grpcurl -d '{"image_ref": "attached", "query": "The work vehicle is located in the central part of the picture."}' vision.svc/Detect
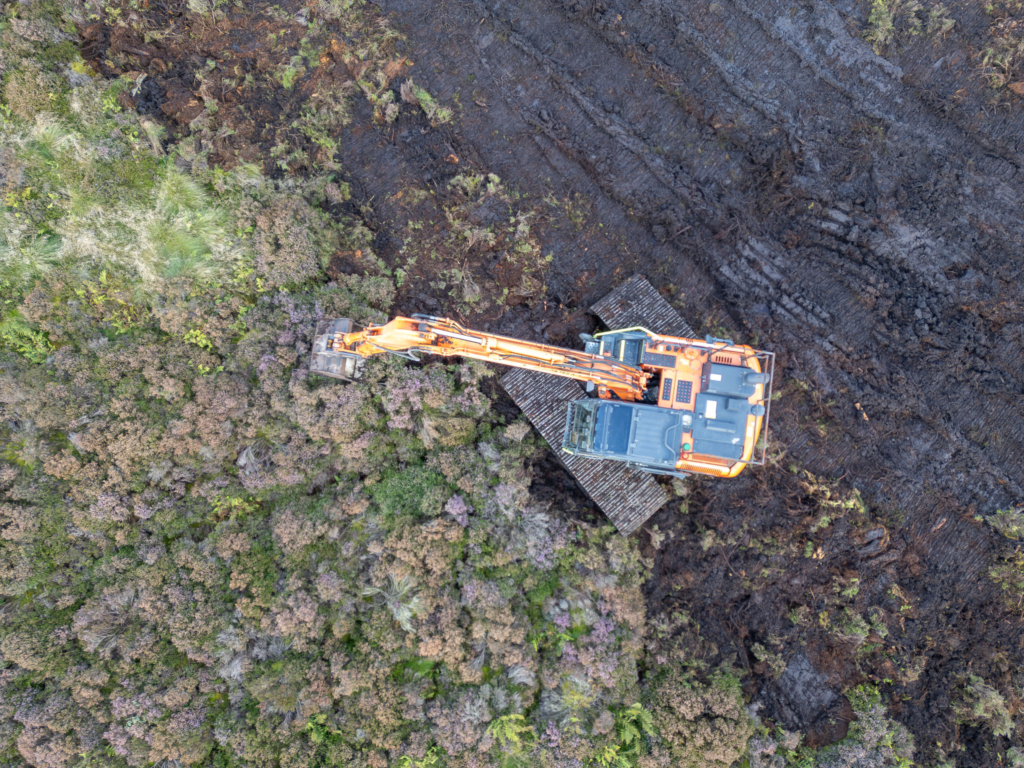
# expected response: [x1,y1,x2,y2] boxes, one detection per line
[309,275,776,537]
